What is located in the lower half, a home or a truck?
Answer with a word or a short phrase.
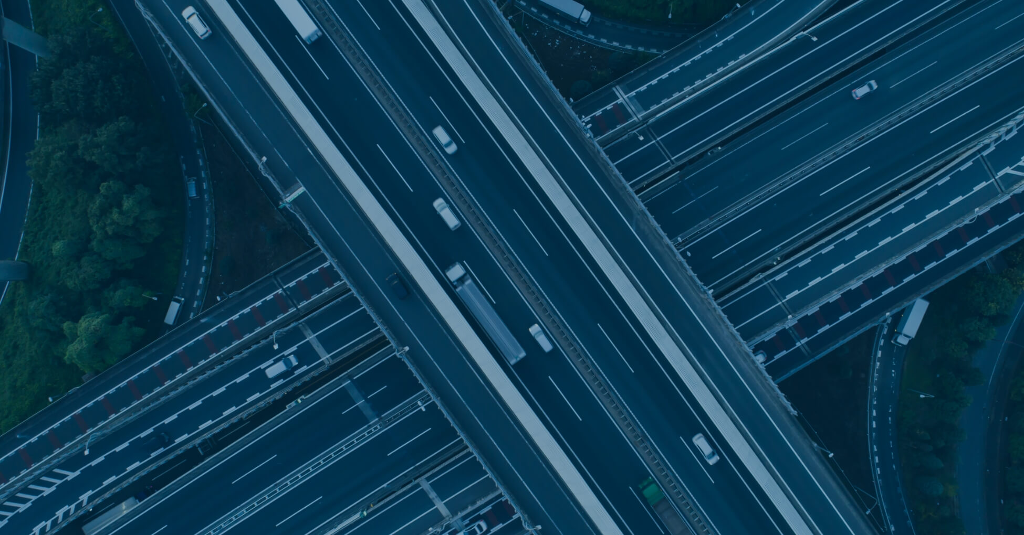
truck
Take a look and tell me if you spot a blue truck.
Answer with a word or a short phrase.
Yes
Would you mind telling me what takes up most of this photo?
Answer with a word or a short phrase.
paved ground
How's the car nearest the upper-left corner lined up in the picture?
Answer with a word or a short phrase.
diagonally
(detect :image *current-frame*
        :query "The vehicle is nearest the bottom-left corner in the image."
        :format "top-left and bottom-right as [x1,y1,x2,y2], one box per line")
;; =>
[82,482,161,535]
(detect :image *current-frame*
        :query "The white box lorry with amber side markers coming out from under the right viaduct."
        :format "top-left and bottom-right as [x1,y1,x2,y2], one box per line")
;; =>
[888,299,929,349]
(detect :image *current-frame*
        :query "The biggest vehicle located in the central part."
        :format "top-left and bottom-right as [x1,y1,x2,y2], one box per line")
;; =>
[443,262,526,365]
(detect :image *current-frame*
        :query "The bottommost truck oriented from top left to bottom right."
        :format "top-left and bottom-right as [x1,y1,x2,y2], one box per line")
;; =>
[636,473,691,535]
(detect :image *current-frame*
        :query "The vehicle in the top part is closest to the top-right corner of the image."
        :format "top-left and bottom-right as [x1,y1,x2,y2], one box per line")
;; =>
[849,80,877,101]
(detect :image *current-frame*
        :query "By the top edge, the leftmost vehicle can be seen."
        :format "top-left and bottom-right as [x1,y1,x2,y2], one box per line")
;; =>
[184,8,212,40]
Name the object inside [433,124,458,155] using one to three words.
car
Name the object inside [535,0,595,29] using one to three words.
truck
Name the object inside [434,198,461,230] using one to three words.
car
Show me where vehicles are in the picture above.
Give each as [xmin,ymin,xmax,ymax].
[265,353,299,379]
[849,80,877,101]
[82,482,161,535]
[185,175,201,199]
[163,296,184,325]
[535,0,595,29]
[443,262,526,365]
[184,8,212,40]
[433,124,458,155]
[434,198,461,230]
[888,299,929,349]
[143,432,171,454]
[529,323,553,352]
[636,473,691,535]
[275,0,329,53]
[693,433,717,464]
